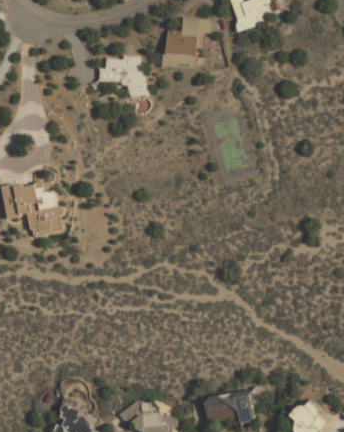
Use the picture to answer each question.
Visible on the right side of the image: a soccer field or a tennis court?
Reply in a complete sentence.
Visible on the right side of the image is a tennis court.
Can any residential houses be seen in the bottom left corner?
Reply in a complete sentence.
Yes, there is a residential house in the bottom left corner.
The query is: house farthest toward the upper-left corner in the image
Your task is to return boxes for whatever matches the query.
[98,56,150,98]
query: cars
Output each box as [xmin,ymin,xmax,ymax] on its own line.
[44,394,50,404]
[220,21,225,31]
